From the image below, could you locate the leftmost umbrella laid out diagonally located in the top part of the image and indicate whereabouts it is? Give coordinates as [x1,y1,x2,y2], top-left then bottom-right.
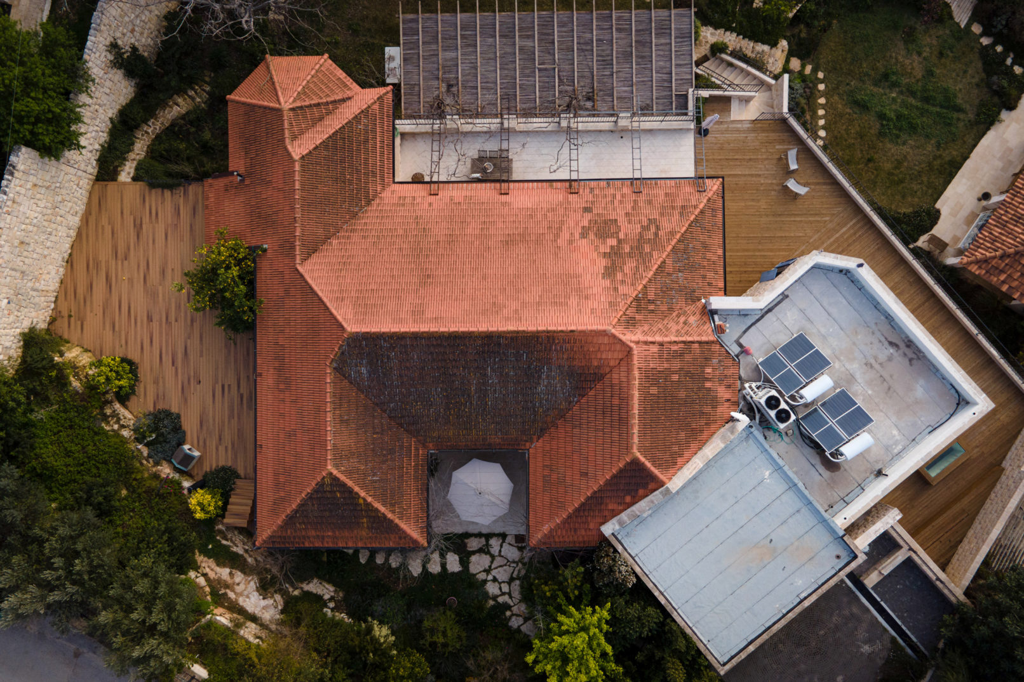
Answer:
[699,114,720,138]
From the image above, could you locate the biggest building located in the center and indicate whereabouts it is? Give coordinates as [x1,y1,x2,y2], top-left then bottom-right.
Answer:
[201,53,740,550]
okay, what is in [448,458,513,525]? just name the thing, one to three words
umbrella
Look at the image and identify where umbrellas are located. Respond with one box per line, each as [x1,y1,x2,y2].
[699,114,720,138]
[448,458,513,525]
